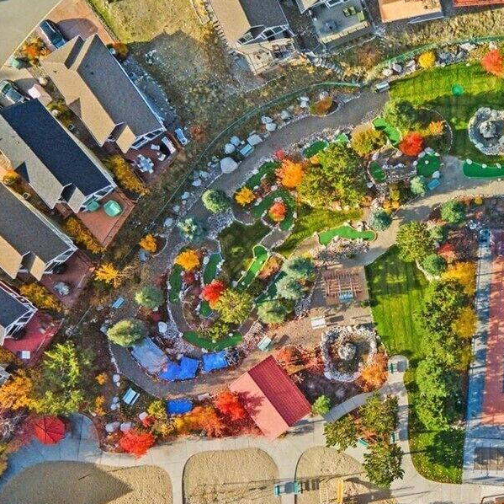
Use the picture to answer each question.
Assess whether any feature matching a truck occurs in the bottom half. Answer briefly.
No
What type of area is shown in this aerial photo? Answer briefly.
residential area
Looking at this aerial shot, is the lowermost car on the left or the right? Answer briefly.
left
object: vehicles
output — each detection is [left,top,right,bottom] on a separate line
[32,14,67,53]
[0,74,26,104]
